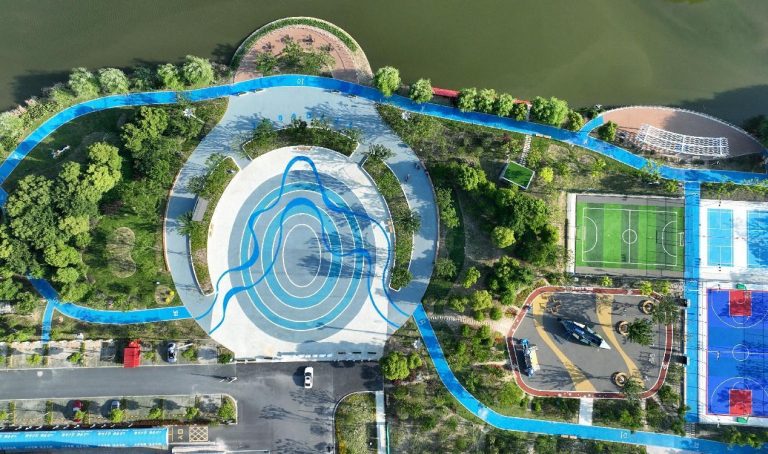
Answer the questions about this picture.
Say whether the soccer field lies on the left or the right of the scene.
right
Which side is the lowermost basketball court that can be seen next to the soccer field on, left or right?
right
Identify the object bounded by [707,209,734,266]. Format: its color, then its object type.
blue sports court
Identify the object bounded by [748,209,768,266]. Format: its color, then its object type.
blue sports court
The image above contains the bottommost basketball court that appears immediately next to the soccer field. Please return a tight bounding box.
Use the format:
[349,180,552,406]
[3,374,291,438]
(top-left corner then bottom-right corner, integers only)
[705,289,768,416]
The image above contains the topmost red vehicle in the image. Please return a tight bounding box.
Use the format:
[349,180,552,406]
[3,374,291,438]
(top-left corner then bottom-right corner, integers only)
[124,341,140,371]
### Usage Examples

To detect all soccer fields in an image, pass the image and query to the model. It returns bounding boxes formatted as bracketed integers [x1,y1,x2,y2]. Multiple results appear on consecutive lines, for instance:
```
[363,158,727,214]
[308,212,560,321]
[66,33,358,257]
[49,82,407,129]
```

[577,203,685,269]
